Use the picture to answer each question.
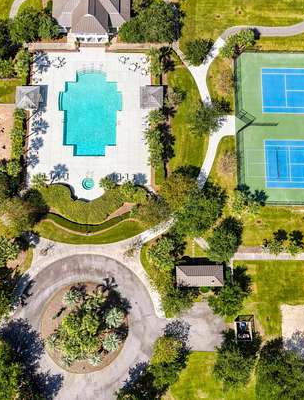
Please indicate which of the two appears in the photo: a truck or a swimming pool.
swimming pool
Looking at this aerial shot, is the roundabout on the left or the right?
left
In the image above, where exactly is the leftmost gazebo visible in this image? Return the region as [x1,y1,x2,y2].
[15,86,42,111]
